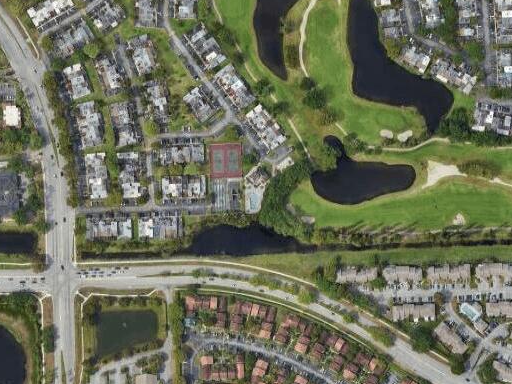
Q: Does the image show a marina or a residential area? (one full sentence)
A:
This image shows a residential area.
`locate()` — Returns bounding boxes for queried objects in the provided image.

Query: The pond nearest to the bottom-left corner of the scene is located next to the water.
[93,309,159,361]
